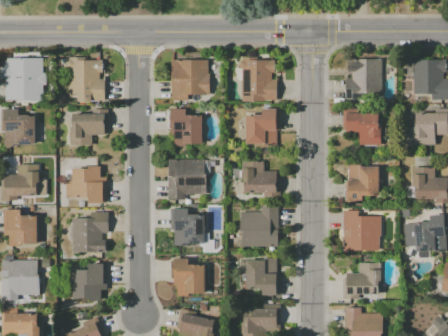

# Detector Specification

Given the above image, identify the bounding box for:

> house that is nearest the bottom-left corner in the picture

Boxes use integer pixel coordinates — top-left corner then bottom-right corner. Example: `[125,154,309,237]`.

[1,308,40,336]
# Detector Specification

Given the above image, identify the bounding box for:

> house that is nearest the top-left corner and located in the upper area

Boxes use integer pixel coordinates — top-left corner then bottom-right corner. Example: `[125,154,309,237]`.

[6,58,46,101]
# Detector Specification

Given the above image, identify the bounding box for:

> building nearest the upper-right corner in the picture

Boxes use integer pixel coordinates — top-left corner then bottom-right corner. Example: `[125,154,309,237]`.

[414,60,448,99]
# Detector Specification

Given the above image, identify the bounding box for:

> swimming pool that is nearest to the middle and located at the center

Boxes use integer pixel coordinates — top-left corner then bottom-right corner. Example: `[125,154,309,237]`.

[209,172,223,200]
